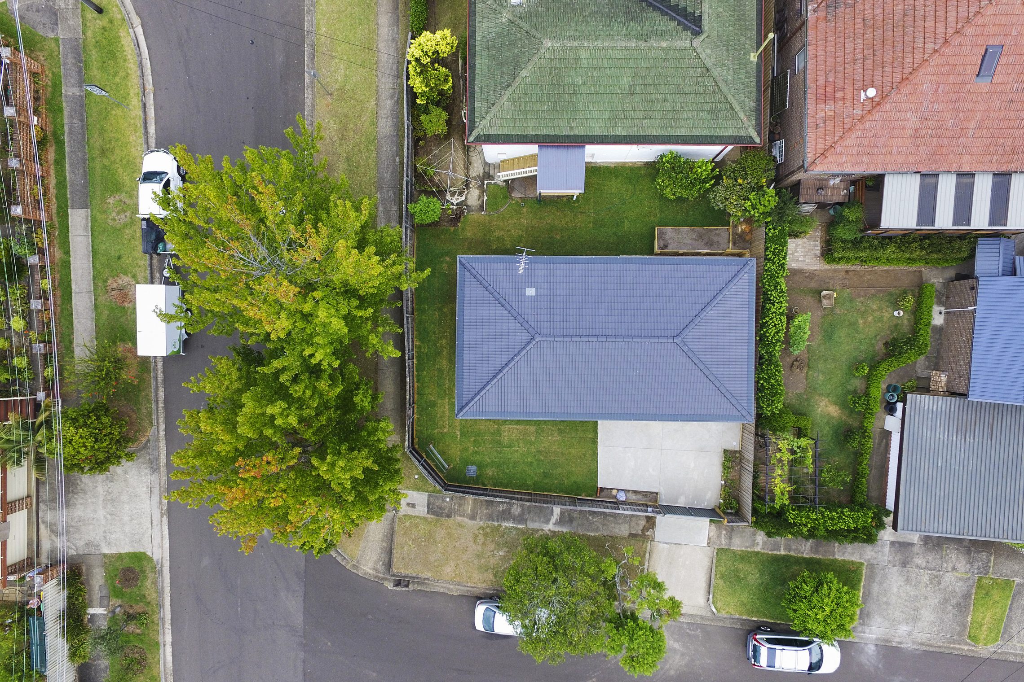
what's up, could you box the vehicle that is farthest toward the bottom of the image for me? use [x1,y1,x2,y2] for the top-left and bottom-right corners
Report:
[751,628,837,677]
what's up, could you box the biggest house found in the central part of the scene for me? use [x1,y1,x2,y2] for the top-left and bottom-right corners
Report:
[455,255,757,423]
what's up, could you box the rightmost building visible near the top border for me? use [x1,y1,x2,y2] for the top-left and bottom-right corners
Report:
[776,0,1024,186]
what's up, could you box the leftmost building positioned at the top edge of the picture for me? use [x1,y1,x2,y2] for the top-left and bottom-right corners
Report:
[467,0,776,162]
